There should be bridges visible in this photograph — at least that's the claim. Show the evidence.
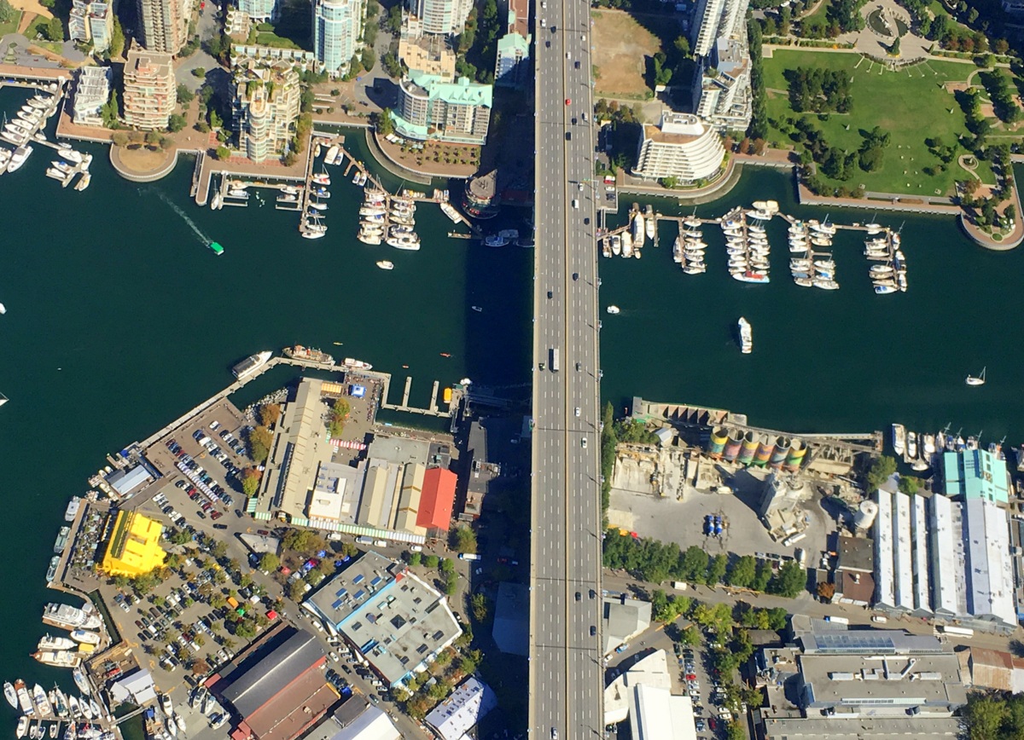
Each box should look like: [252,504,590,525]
[528,0,604,740]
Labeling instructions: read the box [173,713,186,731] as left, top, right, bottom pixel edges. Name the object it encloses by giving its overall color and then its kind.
white boat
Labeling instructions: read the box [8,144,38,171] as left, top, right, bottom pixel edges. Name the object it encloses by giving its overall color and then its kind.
white boat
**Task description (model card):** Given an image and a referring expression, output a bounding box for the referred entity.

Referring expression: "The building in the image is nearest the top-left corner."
[68,0,112,49]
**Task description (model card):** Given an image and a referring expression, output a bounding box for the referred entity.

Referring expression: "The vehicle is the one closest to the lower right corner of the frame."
[941,625,975,637]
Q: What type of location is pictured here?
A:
port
